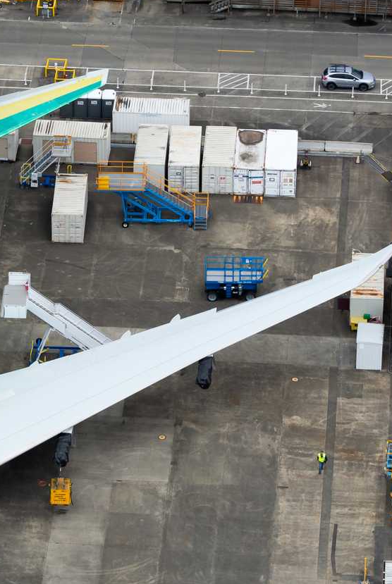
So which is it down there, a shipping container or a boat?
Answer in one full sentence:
There is a shipping container in the scene.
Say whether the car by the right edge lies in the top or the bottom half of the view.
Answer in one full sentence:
The car by the right edge sits in the top half of the picture.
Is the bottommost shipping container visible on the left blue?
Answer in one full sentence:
No, the bottommost shipping container visible on the left is white.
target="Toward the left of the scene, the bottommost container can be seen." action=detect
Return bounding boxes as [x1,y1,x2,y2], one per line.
[51,173,91,243]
